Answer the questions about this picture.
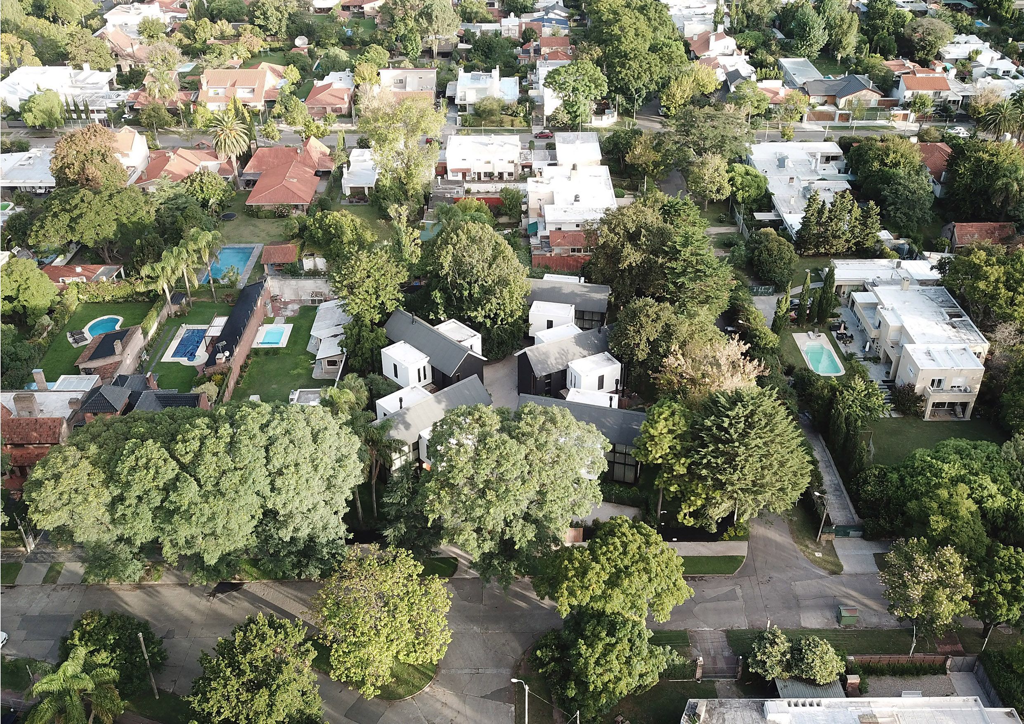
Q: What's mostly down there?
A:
trees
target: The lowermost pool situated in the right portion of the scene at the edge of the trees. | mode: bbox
[792,332,840,375]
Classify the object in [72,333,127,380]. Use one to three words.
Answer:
shed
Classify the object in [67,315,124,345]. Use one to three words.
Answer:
swimming pool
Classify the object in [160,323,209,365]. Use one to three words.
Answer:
swimming pool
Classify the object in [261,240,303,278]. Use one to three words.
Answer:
building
